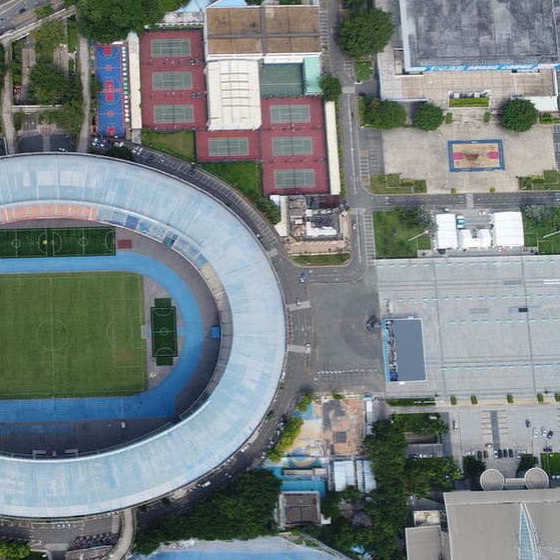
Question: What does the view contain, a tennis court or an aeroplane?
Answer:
tennis court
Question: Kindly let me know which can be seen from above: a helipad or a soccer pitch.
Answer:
soccer pitch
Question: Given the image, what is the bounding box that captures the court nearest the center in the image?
[274,169,315,189]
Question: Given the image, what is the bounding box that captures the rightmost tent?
[487,211,524,249]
